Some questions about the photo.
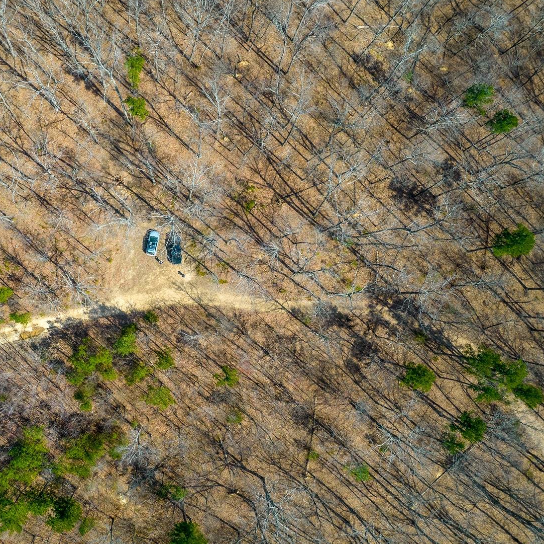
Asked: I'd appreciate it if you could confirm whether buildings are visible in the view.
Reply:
No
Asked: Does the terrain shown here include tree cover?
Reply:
Yes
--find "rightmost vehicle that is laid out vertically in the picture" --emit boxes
[169,232,184,265]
